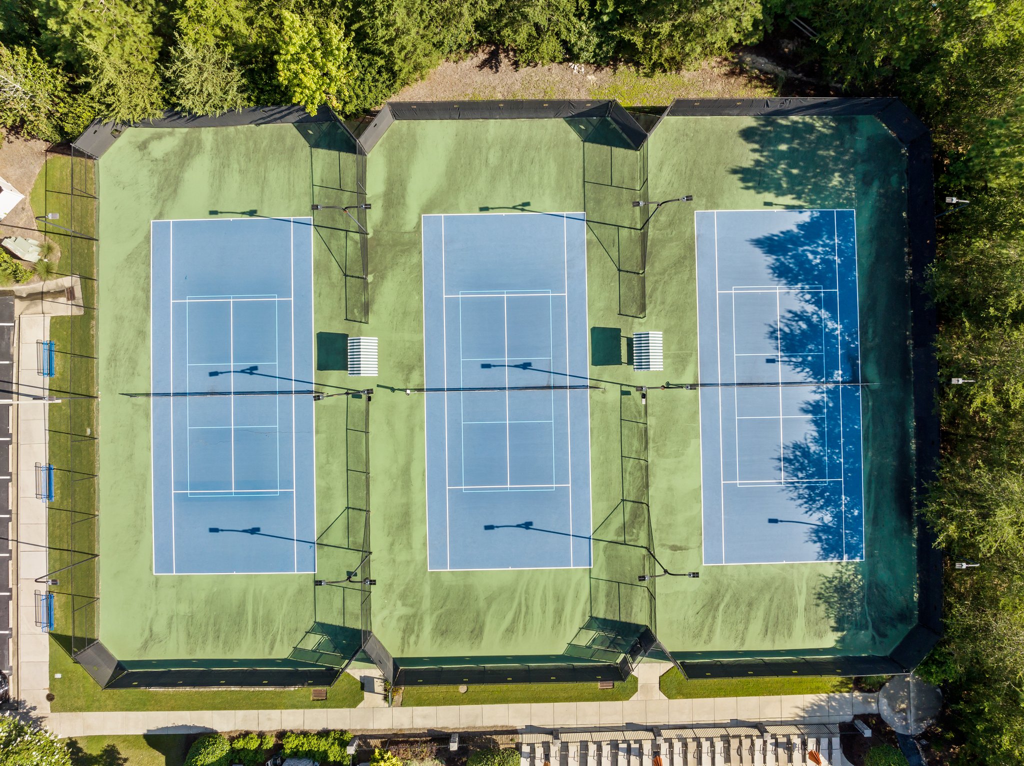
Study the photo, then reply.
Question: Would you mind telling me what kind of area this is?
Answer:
sports ground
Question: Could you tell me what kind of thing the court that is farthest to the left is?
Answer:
tennis court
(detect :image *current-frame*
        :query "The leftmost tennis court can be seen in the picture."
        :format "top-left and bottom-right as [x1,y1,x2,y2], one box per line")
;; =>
[94,120,370,673]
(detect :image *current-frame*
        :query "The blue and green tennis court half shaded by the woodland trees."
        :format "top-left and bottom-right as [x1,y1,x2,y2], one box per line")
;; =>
[626,111,918,665]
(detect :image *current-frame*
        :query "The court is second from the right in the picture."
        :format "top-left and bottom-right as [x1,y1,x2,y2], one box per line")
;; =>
[344,116,647,670]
